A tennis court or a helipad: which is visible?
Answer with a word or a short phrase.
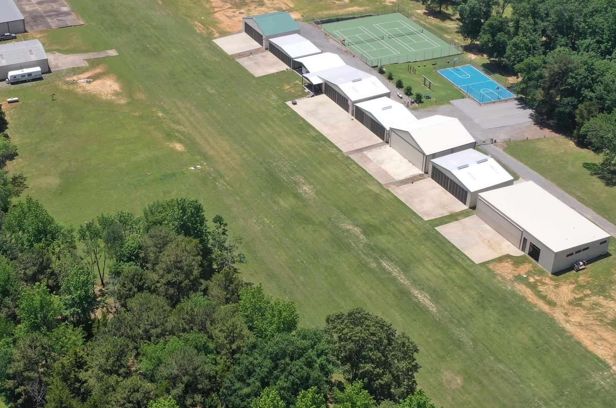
tennis court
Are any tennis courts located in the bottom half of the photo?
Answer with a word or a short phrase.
No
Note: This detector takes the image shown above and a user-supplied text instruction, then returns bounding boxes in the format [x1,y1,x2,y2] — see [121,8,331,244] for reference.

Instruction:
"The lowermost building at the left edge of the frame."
[0,38,51,80]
